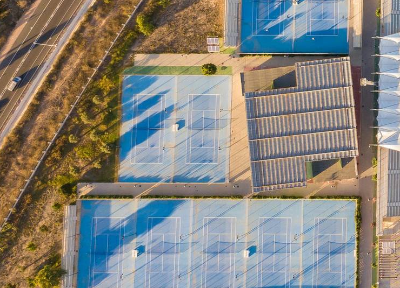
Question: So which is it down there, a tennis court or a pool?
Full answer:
This aerial view contains a tennis court.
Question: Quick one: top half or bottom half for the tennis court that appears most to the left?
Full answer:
Seen from above, the tennis court that appears most to the left lies in the bottom half of the view.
